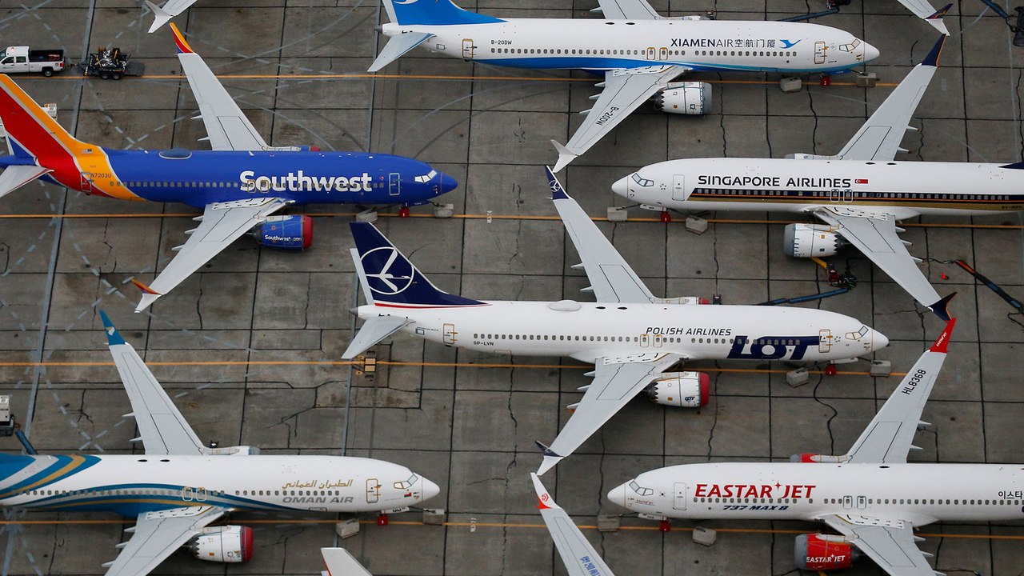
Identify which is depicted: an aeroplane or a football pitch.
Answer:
aeroplane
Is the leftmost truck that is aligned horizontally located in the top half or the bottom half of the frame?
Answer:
top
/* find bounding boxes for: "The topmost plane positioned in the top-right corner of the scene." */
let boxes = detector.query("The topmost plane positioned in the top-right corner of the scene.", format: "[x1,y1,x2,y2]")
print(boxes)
[902,0,953,35]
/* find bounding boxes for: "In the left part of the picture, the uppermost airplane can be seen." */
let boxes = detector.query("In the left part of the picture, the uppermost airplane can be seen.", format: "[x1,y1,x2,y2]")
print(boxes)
[148,0,191,28]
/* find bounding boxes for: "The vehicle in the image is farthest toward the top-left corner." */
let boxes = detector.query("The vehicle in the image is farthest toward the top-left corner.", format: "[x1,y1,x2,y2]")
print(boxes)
[0,45,68,77]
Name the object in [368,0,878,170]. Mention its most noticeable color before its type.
white airplane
